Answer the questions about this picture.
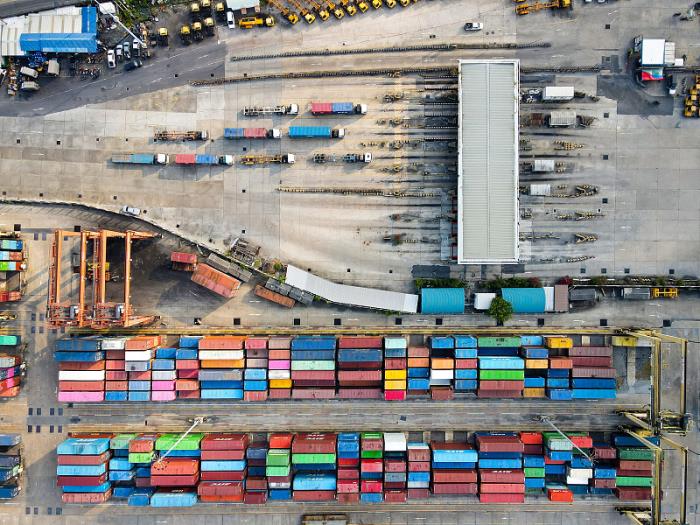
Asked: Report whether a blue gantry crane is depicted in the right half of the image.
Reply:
No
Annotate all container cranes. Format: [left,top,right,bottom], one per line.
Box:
[617,326,695,435]
[49,227,126,330]
[93,227,167,330]
[617,423,695,525]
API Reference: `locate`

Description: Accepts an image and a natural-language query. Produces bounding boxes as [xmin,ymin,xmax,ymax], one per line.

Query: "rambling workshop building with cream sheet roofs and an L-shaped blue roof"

[1,5,103,57]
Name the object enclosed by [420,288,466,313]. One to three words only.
shed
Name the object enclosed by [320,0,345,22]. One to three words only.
truck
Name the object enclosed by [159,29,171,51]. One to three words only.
vehicle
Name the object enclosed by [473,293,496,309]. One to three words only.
shed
